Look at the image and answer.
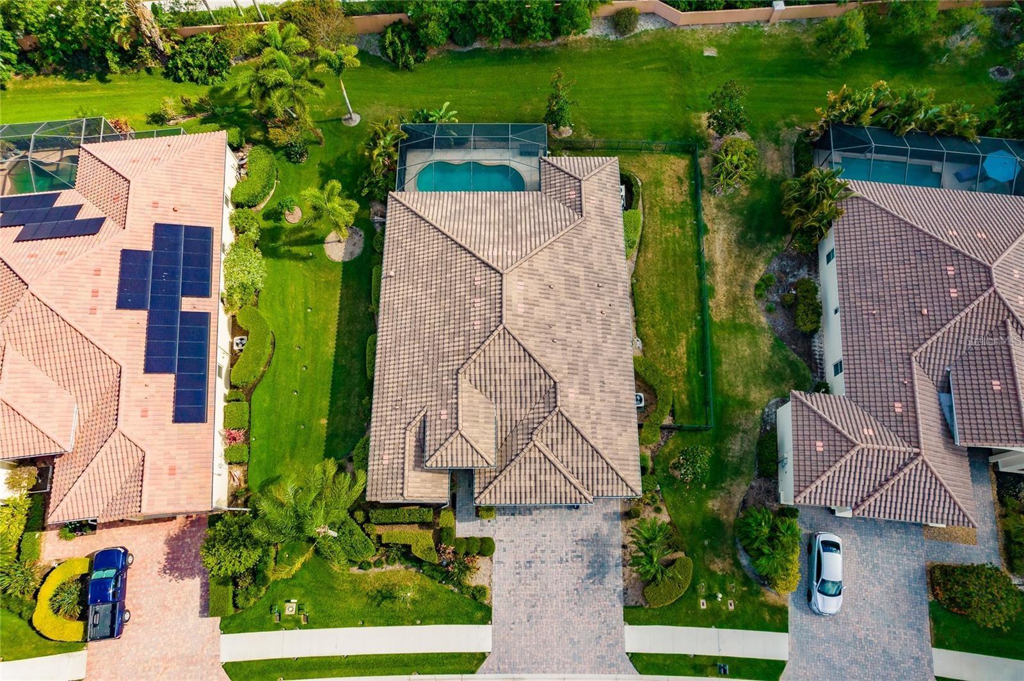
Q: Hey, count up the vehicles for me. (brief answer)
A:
2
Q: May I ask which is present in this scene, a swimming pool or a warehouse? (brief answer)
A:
swimming pool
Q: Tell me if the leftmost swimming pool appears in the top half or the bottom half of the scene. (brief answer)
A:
top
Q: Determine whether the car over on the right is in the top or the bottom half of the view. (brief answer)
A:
bottom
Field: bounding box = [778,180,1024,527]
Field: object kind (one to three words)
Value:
house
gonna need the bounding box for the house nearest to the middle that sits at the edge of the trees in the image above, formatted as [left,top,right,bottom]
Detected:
[365,156,642,505]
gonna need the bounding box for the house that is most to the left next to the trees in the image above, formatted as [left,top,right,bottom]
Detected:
[0,130,238,529]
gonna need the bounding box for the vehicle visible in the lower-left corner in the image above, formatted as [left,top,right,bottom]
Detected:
[87,547,136,646]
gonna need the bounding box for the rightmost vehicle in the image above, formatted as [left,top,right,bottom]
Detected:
[810,534,851,618]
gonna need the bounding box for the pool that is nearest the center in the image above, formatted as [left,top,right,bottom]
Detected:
[412,157,529,191]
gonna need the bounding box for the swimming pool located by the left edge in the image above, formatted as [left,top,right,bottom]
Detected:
[1,154,78,195]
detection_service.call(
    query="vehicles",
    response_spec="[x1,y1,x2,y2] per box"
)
[87,547,136,646]
[810,534,851,618]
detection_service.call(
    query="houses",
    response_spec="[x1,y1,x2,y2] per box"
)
[0,130,238,529]
[778,180,1024,527]
[365,156,642,505]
